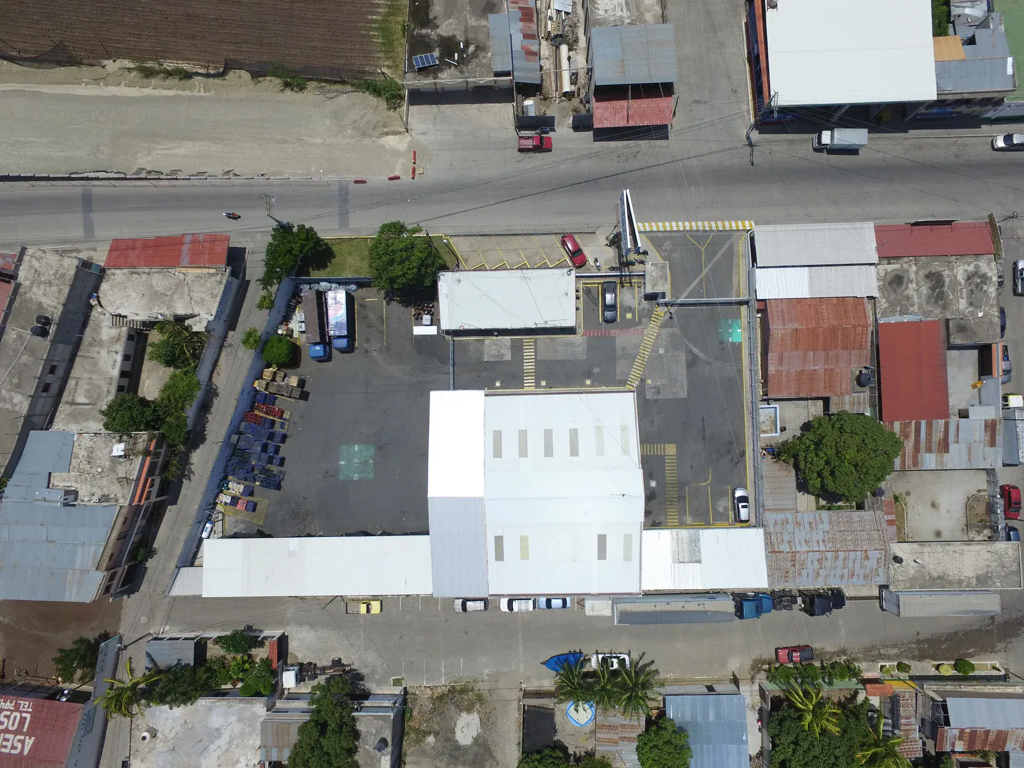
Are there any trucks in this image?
Yes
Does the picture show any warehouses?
Yes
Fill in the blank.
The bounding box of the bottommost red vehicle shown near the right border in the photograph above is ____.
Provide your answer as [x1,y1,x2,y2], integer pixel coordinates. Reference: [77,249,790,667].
[1000,484,1020,519]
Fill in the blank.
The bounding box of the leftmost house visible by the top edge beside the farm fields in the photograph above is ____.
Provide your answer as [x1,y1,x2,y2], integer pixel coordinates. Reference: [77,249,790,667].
[405,0,513,98]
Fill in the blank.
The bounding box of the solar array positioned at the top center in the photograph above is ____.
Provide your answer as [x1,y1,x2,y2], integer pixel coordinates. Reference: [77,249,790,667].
[411,51,440,70]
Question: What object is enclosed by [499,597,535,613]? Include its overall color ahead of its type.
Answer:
white car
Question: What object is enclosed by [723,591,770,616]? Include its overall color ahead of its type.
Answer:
blue truck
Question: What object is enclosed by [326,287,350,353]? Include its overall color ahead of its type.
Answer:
white truck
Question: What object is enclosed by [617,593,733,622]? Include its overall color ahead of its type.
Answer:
gray trailer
